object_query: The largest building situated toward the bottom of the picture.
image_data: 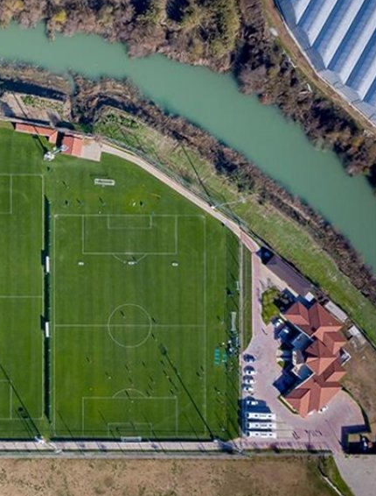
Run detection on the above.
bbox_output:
[277,299,351,413]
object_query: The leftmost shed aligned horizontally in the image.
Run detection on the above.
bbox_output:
[15,123,57,136]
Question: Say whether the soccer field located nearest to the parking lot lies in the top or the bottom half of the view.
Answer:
bottom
